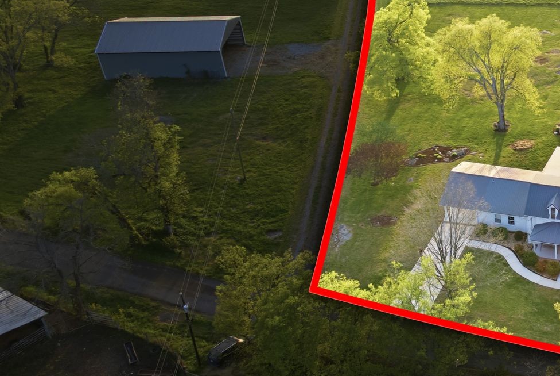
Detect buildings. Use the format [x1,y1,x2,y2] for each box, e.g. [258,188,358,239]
[0,281,55,354]
[94,17,250,80]
[441,148,560,263]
